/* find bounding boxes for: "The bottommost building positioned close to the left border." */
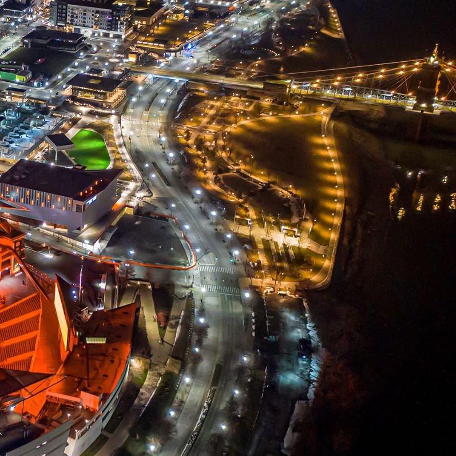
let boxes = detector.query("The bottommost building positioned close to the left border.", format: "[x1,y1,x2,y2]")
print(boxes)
[0,159,123,231]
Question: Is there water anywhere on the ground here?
Yes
